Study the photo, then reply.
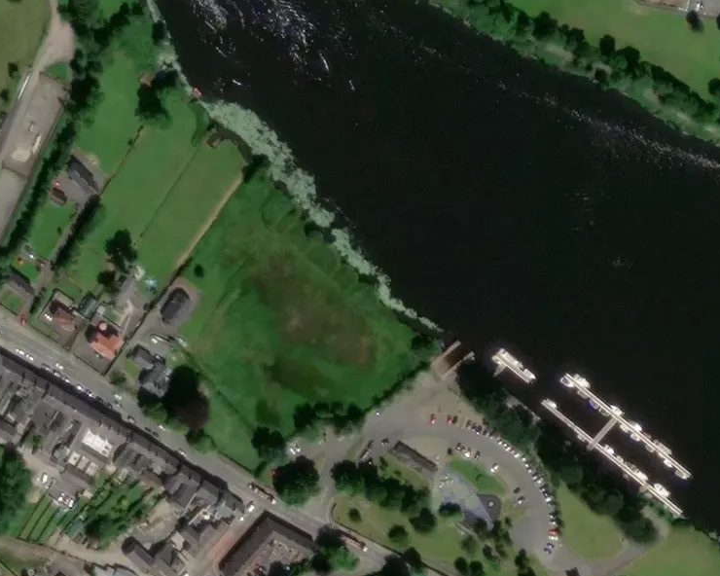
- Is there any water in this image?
Yes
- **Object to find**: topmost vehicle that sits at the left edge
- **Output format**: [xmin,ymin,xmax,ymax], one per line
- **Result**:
[17,74,30,100]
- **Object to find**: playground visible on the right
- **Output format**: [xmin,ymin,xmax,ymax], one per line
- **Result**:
[440,463,501,529]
